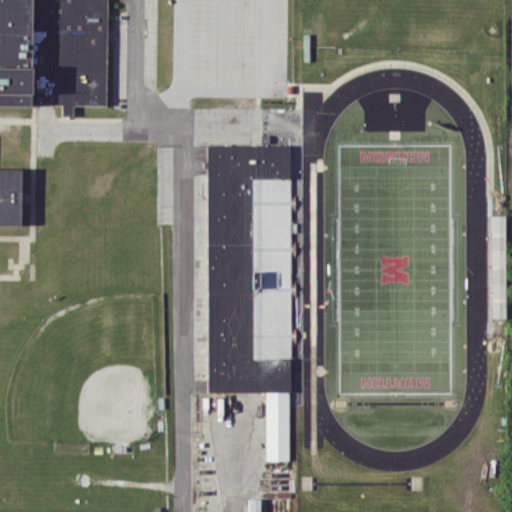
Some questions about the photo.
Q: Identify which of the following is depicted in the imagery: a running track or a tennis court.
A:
running track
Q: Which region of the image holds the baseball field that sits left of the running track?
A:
bottom left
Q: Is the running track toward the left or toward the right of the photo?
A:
right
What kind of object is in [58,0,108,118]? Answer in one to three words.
building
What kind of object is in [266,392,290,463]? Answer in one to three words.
shed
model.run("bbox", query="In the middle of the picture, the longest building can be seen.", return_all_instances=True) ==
[208,146,296,392]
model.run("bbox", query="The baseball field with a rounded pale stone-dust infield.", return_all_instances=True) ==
[78,364,152,445]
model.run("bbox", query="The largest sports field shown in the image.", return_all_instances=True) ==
[325,89,466,450]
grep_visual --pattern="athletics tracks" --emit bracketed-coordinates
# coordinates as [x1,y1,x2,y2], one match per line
[304,68,486,471]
